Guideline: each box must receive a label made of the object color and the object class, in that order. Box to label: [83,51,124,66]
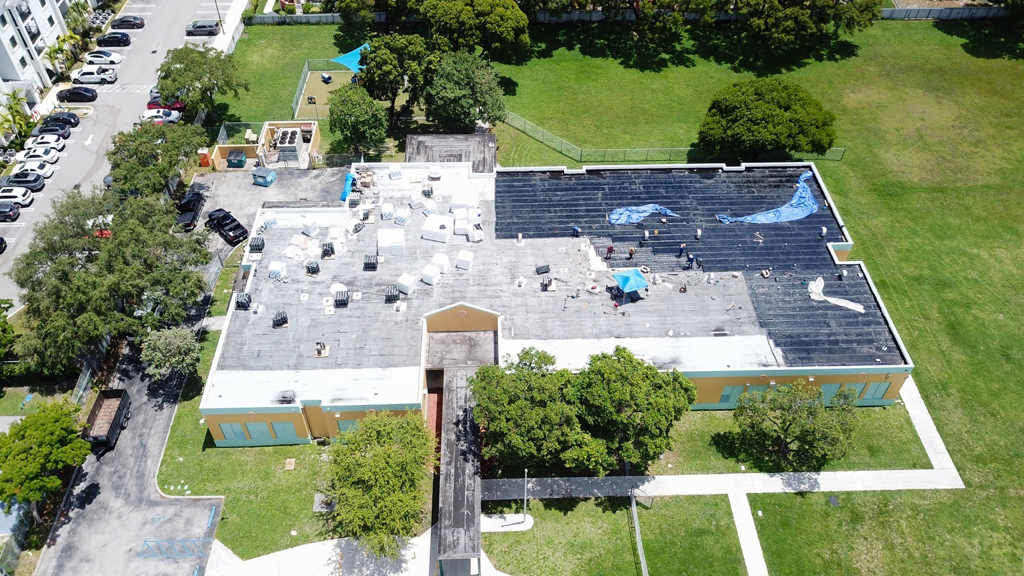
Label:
white car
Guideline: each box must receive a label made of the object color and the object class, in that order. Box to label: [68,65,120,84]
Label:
white vehicle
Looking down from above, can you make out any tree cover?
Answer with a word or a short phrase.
Yes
